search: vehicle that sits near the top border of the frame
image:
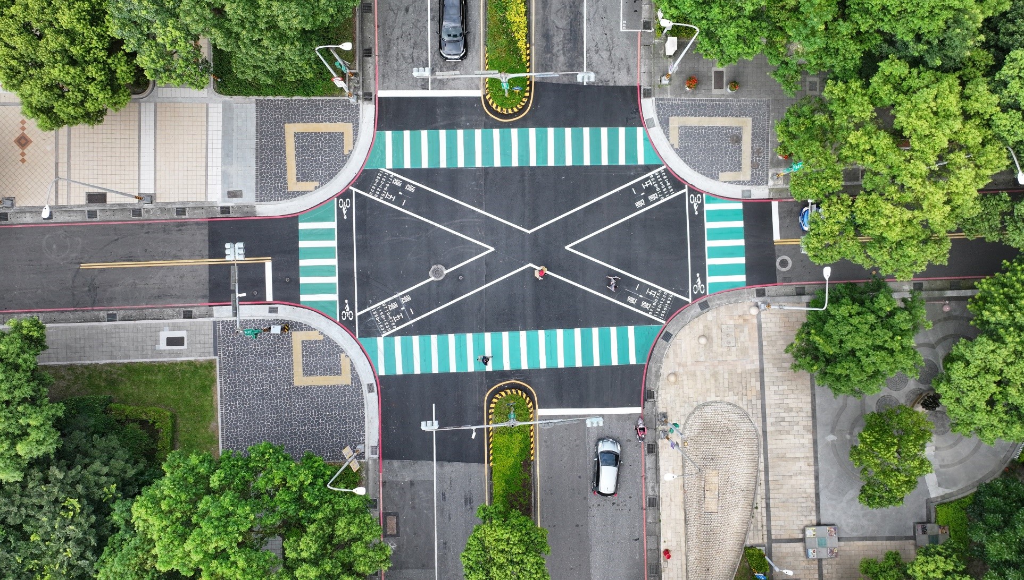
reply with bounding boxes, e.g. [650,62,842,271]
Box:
[437,0,470,59]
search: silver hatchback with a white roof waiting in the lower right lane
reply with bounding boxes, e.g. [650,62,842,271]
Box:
[591,435,623,498]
